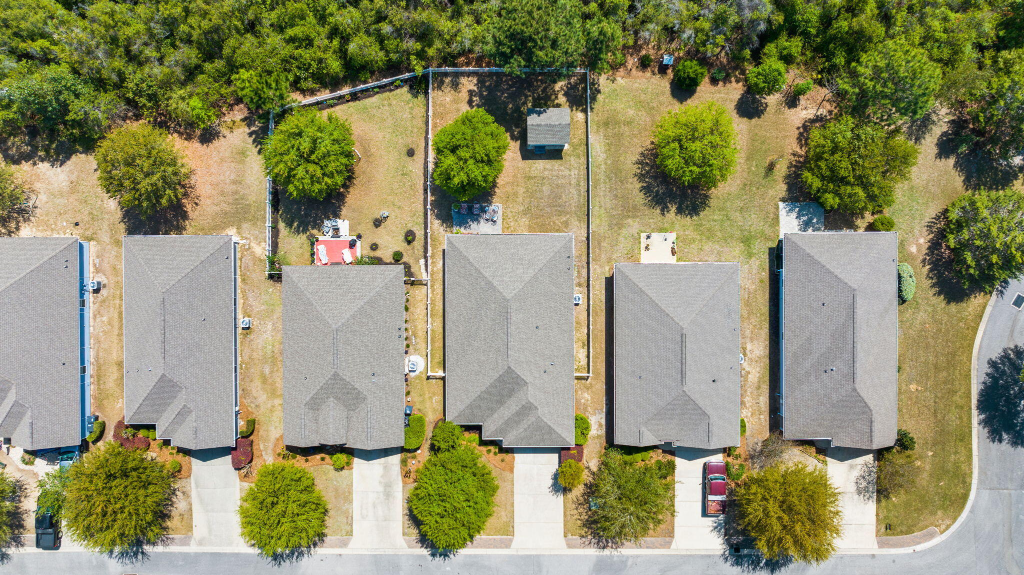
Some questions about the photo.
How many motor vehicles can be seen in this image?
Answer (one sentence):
The photo contains 3 motor vehicles.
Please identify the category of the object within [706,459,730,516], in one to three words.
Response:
truck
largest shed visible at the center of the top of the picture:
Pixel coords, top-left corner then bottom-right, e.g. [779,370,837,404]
[527,108,571,155]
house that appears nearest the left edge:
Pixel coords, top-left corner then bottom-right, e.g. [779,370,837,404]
[0,237,93,451]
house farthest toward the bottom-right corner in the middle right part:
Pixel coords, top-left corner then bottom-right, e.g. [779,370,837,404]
[779,232,898,450]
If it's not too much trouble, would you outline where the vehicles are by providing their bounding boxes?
[58,447,84,490]
[29,495,60,550]
[706,459,730,516]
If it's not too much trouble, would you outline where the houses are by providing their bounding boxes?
[123,235,239,449]
[0,237,93,451]
[283,266,404,450]
[779,232,898,450]
[613,263,741,450]
[445,234,575,448]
